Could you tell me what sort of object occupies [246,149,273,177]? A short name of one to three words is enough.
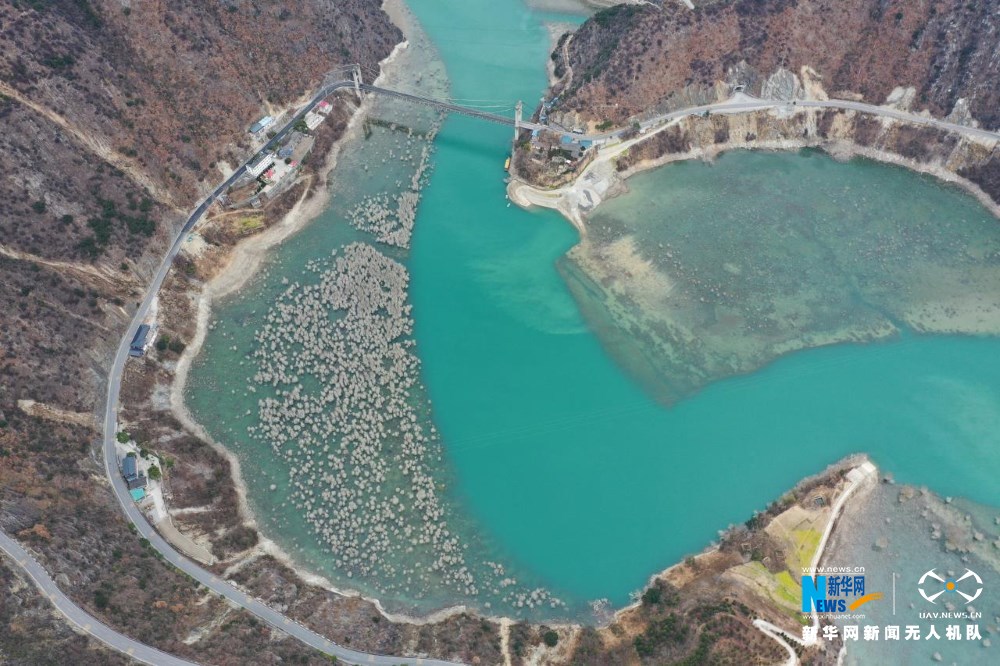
building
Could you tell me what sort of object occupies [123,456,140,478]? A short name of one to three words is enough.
house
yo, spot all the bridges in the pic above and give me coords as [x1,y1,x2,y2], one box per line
[310,61,562,142]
